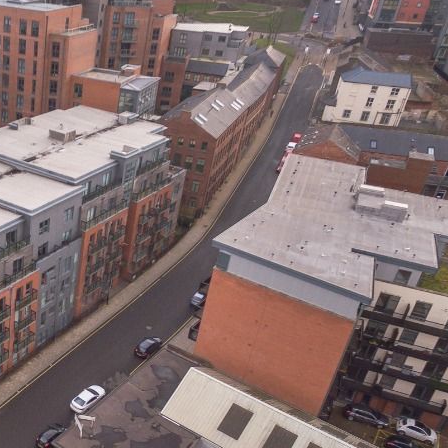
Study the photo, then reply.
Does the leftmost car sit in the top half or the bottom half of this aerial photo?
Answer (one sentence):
It is in the bottom half that the leftmost car appears.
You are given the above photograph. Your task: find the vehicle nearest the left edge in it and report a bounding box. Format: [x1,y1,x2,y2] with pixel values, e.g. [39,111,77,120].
[32,421,66,448]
